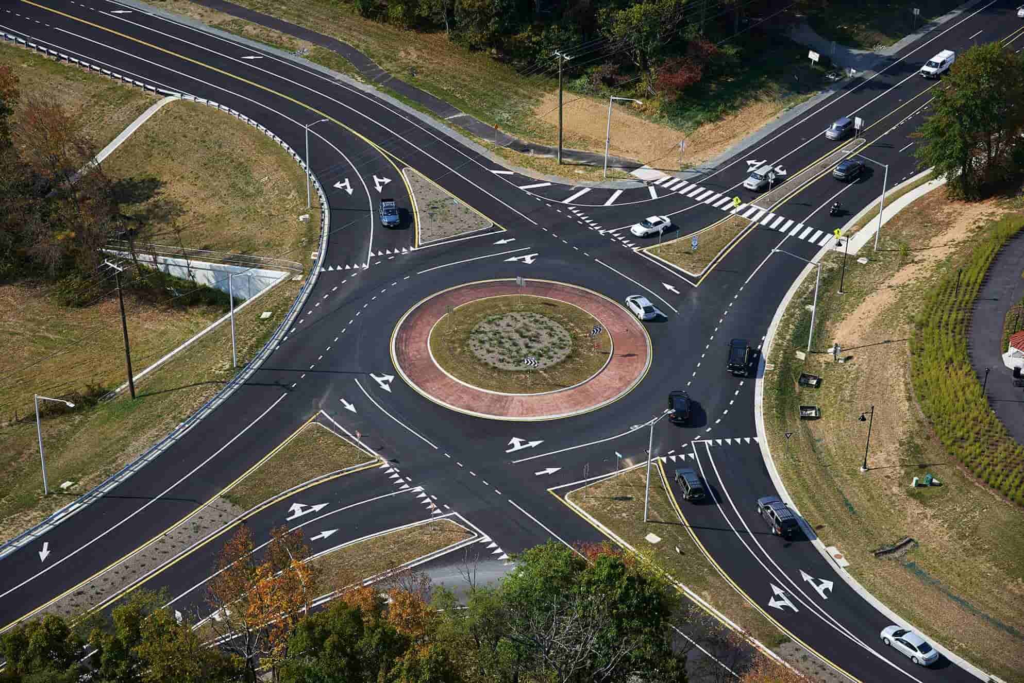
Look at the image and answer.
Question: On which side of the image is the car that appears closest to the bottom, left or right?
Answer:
right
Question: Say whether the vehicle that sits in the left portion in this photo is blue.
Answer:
Yes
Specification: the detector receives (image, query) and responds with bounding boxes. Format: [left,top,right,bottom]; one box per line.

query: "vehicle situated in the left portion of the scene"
[380,190,400,222]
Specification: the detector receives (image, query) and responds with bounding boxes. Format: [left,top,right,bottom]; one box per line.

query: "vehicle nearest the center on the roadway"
[623,294,659,319]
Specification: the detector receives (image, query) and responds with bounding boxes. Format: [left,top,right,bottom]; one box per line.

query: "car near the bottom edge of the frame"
[878,624,940,667]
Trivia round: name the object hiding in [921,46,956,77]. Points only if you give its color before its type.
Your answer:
white truck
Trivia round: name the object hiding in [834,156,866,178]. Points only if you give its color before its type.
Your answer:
black car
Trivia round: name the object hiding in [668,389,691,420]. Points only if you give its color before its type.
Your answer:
black car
